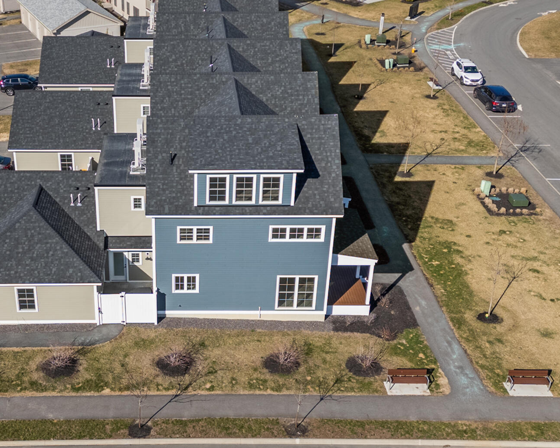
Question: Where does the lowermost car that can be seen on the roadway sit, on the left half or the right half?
right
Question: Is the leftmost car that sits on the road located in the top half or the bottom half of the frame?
top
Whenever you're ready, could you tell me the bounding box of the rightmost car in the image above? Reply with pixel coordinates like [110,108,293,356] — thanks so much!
[472,83,517,112]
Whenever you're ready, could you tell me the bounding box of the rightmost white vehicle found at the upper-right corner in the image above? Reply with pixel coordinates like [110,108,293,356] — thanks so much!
[449,56,488,86]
